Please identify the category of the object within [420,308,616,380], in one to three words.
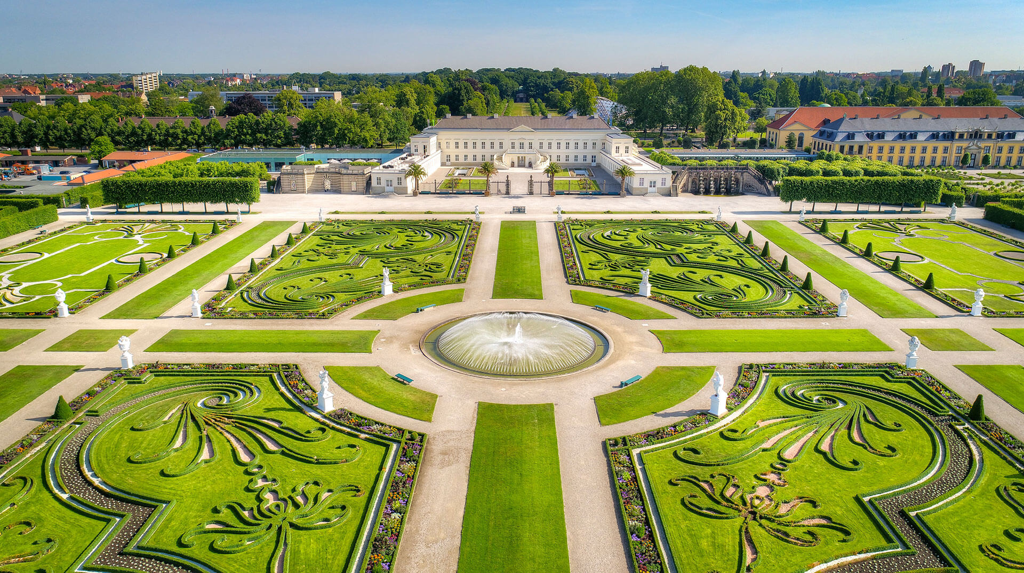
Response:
fountain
